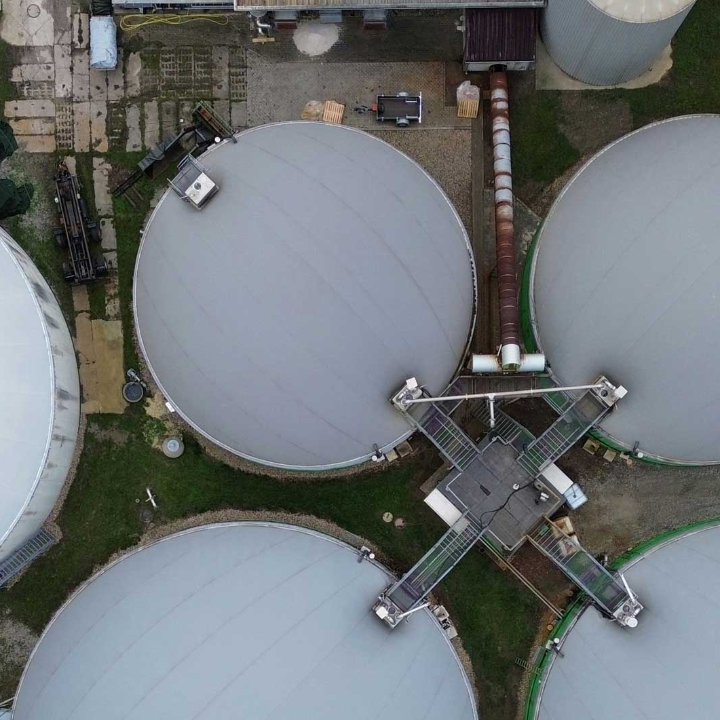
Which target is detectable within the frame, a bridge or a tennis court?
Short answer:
bridge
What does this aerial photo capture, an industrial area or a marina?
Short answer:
industrial area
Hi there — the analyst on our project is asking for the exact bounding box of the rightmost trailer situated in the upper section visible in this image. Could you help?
[352,90,422,131]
